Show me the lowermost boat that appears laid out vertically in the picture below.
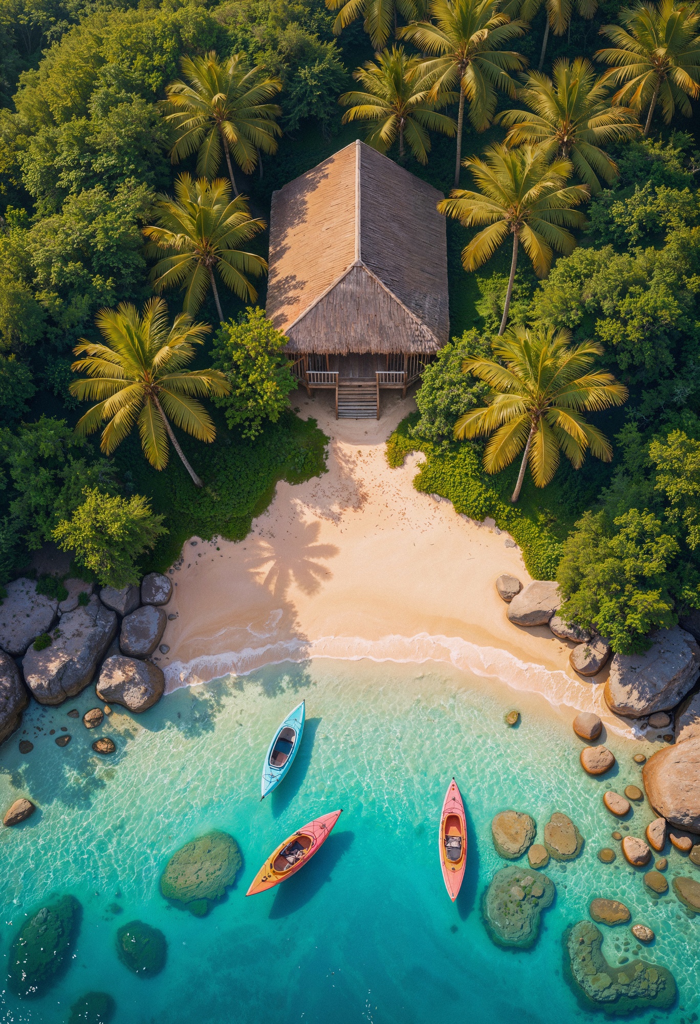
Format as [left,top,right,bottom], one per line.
[438,777,468,904]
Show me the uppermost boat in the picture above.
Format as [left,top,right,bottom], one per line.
[260,699,307,801]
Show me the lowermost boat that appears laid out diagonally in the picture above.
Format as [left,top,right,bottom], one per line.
[245,809,343,897]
